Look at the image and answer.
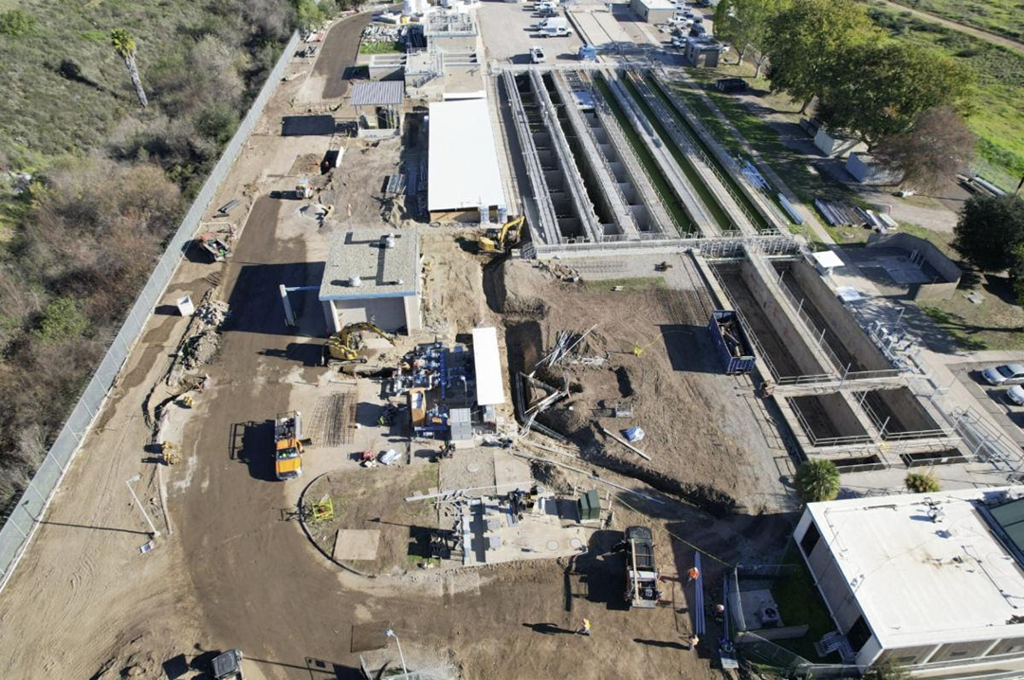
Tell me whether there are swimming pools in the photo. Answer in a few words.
No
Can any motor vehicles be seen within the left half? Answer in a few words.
Yes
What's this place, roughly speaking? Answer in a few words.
industrial area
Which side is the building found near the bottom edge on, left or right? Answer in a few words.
right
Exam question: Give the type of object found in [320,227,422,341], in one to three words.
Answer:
building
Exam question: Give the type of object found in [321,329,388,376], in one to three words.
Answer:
work vehicle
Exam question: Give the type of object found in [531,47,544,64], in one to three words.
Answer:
vehicle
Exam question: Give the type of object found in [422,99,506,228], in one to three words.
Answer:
building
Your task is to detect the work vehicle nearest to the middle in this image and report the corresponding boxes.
[470,211,519,254]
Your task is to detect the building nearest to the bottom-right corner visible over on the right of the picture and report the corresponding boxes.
[794,485,1024,680]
